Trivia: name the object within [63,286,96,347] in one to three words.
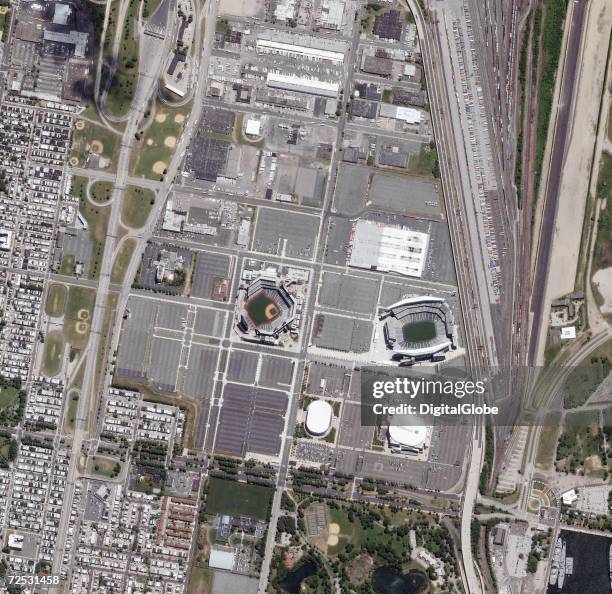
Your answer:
baseball field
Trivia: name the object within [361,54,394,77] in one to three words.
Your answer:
building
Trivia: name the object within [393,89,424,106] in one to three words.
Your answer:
building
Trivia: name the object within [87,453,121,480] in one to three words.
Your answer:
sports field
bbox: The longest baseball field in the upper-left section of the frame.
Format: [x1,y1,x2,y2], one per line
[136,111,186,176]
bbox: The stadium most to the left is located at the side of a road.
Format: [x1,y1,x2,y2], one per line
[235,278,296,345]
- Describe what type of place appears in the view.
residential area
